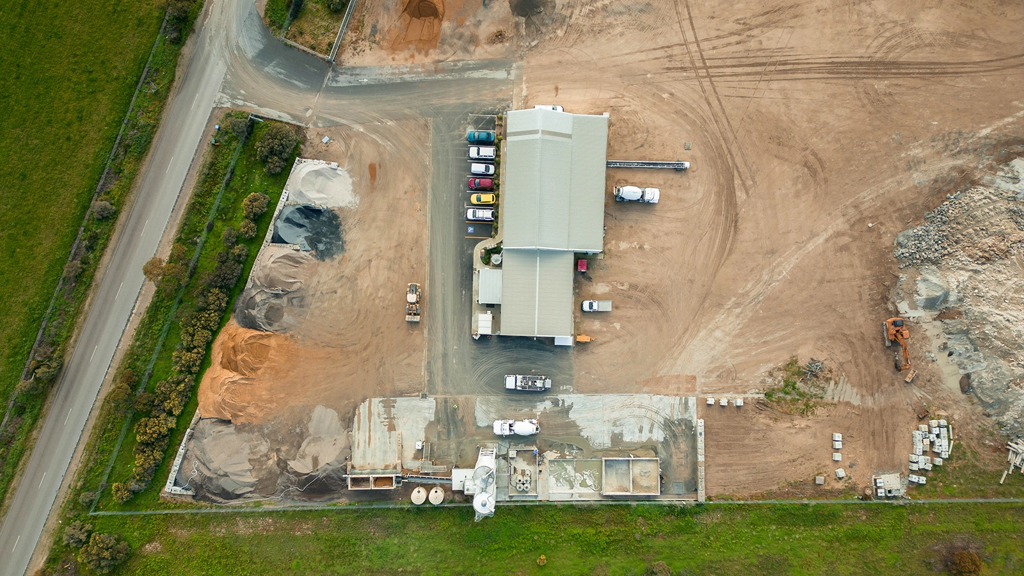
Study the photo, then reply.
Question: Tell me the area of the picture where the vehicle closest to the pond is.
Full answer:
The vehicle closest to the pond appears toward the bottom of the photo.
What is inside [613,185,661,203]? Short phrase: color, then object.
white vehicle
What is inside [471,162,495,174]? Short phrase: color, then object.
white vehicle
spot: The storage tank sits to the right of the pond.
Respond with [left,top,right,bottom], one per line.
[601,454,660,495]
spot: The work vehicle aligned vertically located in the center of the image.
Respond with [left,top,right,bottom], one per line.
[404,284,420,322]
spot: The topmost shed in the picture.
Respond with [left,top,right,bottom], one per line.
[503,105,610,251]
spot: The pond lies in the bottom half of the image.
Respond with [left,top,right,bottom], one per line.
[548,459,601,493]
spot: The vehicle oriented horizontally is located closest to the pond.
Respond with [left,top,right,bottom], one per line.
[495,420,542,440]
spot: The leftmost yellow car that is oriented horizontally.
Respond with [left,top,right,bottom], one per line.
[470,192,495,205]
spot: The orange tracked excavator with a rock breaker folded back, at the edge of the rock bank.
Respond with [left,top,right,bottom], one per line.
[880,317,911,372]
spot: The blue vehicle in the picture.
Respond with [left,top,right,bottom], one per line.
[467,129,495,142]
